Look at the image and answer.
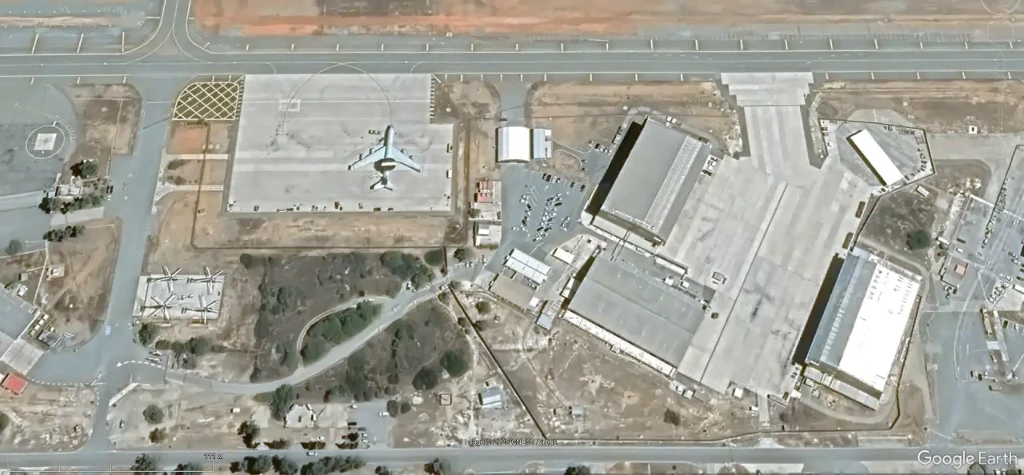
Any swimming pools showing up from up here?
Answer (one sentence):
No, this view has no swimming pool in it.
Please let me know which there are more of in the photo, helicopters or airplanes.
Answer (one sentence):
The helicopters are the larger group, ahead of the airplanes.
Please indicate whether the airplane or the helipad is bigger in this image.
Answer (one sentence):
The airplane takes up more space than the helipad does.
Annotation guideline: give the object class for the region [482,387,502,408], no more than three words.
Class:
shed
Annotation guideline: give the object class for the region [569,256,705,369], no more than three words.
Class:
hangar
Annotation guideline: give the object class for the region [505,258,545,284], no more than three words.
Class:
building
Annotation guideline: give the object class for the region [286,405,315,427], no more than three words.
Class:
house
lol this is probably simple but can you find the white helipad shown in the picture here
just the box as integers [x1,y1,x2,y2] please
[26,122,65,159]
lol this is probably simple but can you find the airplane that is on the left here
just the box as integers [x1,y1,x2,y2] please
[349,126,422,190]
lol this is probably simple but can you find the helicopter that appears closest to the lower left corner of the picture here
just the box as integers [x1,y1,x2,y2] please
[140,293,181,321]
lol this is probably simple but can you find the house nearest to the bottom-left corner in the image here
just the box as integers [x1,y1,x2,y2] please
[3,373,27,395]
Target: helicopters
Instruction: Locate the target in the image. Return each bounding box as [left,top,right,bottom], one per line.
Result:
[146,264,187,293]
[186,263,227,294]
[140,293,181,321]
[181,294,221,325]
